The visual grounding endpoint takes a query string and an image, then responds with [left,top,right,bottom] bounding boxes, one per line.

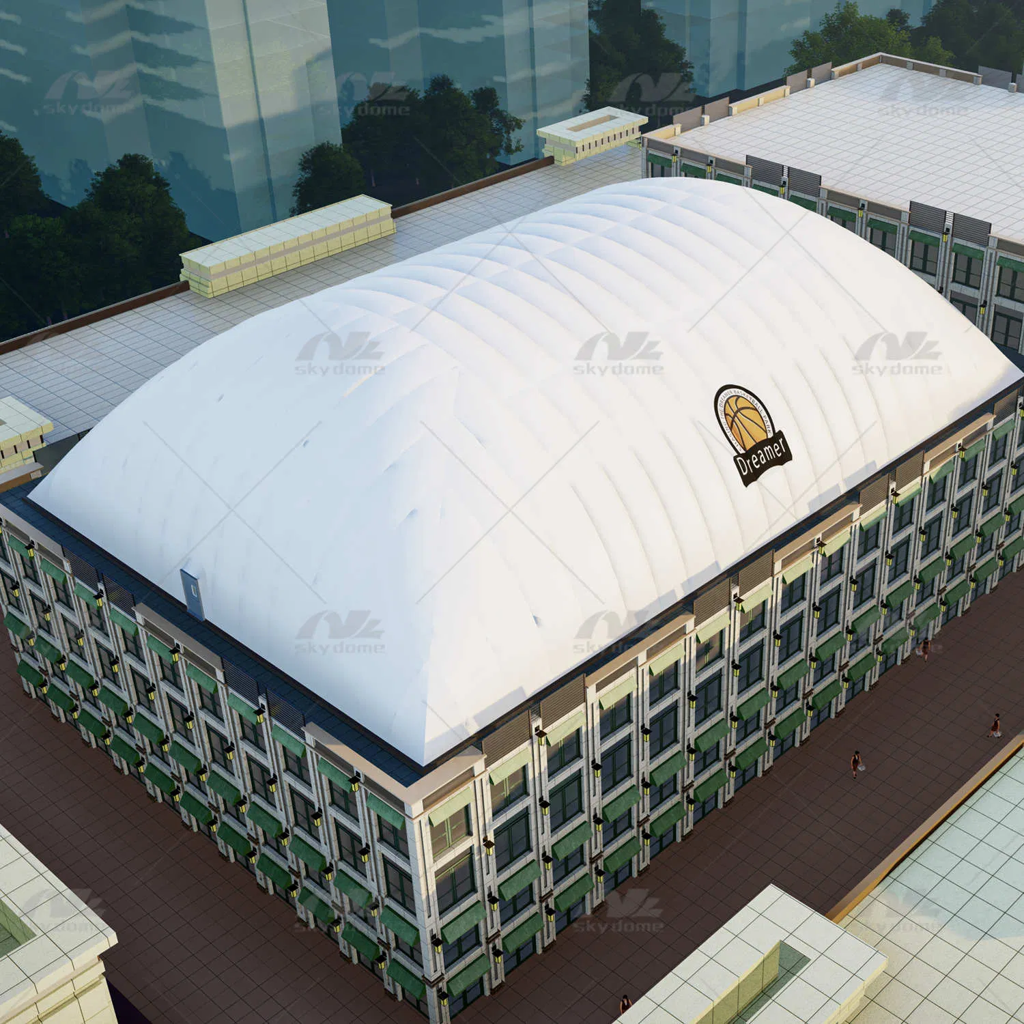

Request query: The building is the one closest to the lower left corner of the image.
[0,825,120,1024]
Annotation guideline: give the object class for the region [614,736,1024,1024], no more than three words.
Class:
building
